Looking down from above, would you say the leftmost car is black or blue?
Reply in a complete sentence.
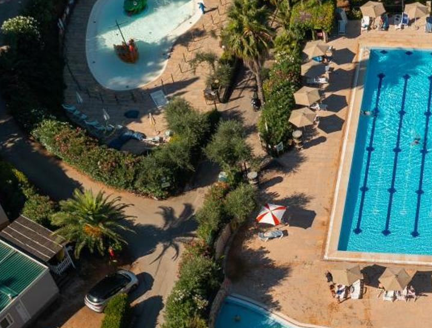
The leftmost car looks black in the image.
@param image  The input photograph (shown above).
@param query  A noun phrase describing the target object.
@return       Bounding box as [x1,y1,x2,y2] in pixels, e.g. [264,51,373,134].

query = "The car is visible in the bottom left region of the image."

[85,268,138,313]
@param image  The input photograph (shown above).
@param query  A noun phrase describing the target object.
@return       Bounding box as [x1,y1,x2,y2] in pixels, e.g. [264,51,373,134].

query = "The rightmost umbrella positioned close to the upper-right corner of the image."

[401,2,432,20]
